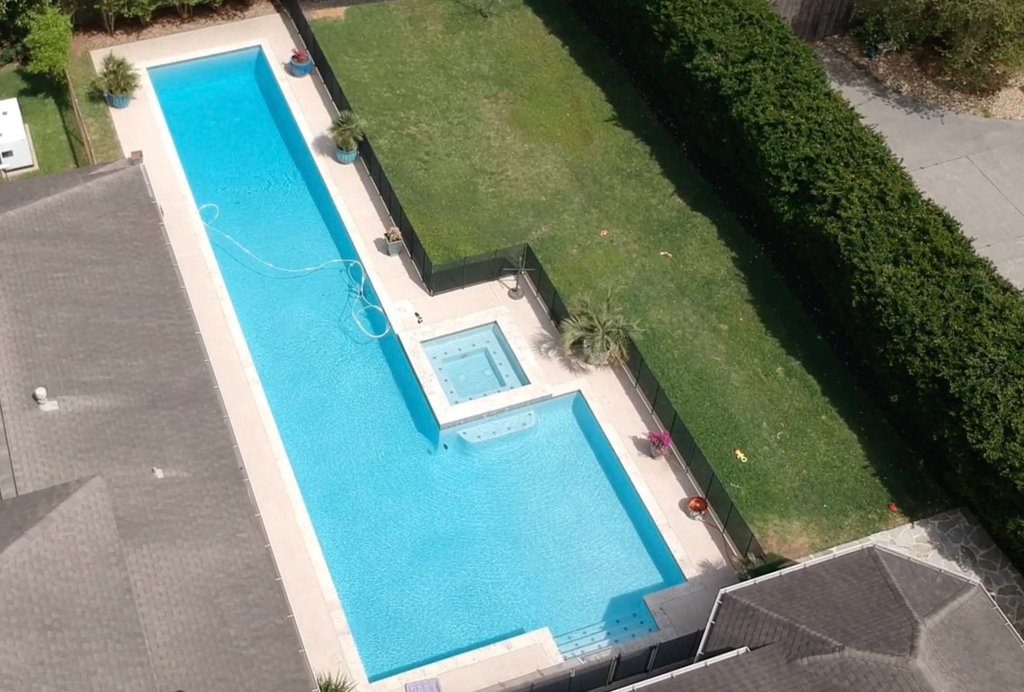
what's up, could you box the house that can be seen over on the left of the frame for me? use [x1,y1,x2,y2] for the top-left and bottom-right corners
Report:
[0,157,321,692]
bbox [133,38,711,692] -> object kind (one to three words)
swimming pool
